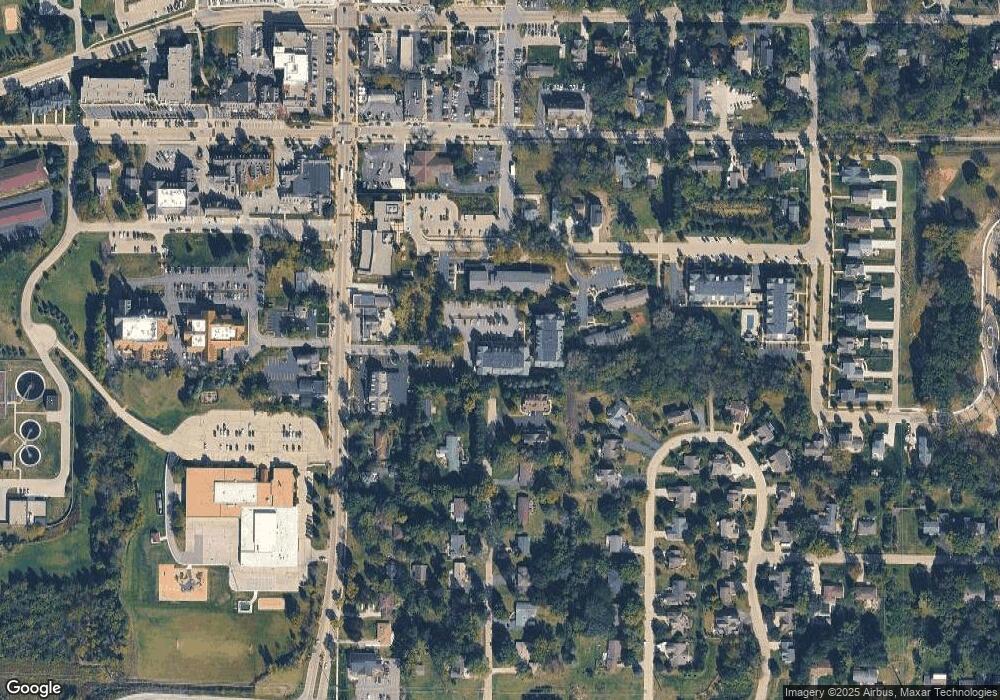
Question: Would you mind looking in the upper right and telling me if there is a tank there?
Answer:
No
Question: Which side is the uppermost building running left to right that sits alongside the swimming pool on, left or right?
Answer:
right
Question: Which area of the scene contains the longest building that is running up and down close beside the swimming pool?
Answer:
right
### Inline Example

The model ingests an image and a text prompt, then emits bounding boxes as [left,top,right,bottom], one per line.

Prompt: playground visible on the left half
[159,563,208,601]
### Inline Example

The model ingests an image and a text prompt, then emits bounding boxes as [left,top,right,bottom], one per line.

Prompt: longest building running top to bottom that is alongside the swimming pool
[766,276,798,343]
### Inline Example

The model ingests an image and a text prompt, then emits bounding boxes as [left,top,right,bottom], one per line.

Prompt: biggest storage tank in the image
[16,371,45,400]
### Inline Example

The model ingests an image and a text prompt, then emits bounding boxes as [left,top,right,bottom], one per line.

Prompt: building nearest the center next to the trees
[474,345,532,377]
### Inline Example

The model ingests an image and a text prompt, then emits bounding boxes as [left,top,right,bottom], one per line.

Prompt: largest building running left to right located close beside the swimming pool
[688,273,753,304]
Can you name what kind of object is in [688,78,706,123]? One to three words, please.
building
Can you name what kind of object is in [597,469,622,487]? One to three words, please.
house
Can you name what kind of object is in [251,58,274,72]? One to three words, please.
building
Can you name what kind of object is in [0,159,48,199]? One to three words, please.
barn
